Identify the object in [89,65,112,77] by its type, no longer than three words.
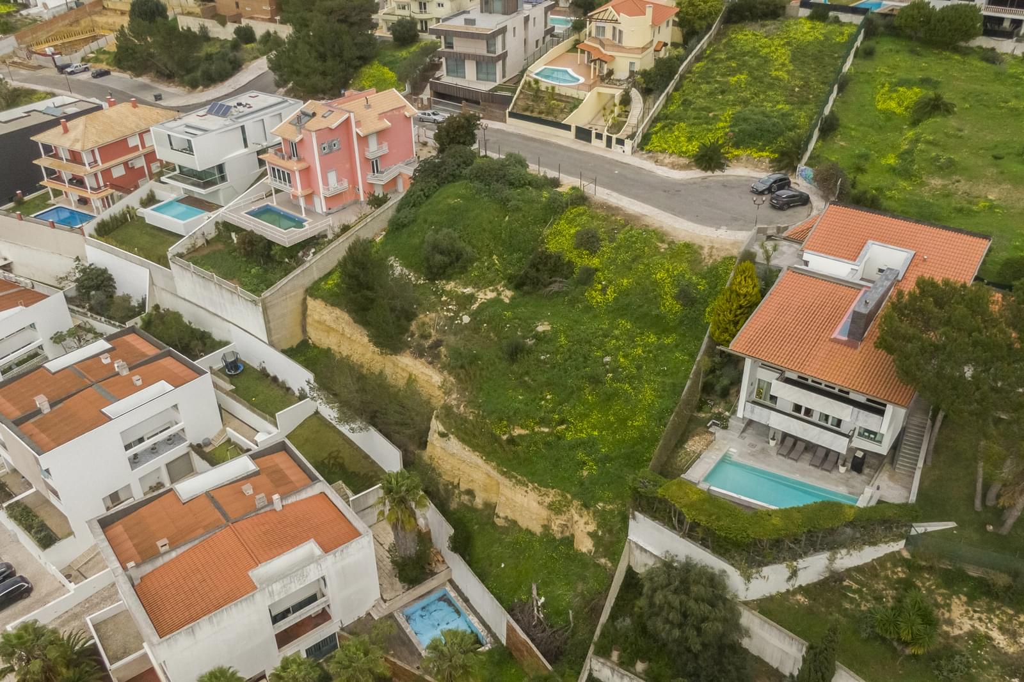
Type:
vehicle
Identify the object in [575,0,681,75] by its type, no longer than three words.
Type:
house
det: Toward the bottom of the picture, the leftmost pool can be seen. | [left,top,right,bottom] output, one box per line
[398,586,494,682]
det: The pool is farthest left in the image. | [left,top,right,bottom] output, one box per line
[30,205,97,231]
